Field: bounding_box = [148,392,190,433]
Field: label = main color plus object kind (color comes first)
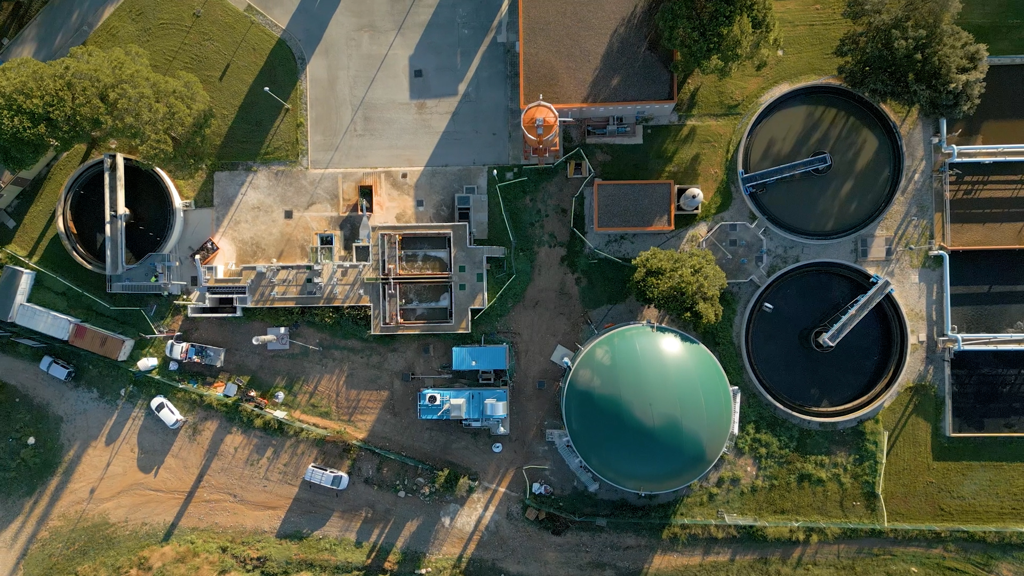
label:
white car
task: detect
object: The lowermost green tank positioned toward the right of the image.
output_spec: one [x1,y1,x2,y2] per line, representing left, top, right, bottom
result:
[554,316,734,496]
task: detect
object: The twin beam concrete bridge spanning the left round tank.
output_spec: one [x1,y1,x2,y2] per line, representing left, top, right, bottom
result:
[103,150,150,275]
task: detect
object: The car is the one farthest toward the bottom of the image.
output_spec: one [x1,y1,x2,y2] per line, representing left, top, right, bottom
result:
[303,461,351,490]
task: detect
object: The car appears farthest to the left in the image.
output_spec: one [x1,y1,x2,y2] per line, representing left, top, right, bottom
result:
[37,354,77,381]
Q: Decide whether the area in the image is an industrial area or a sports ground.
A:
industrial area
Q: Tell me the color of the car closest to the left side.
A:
blue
